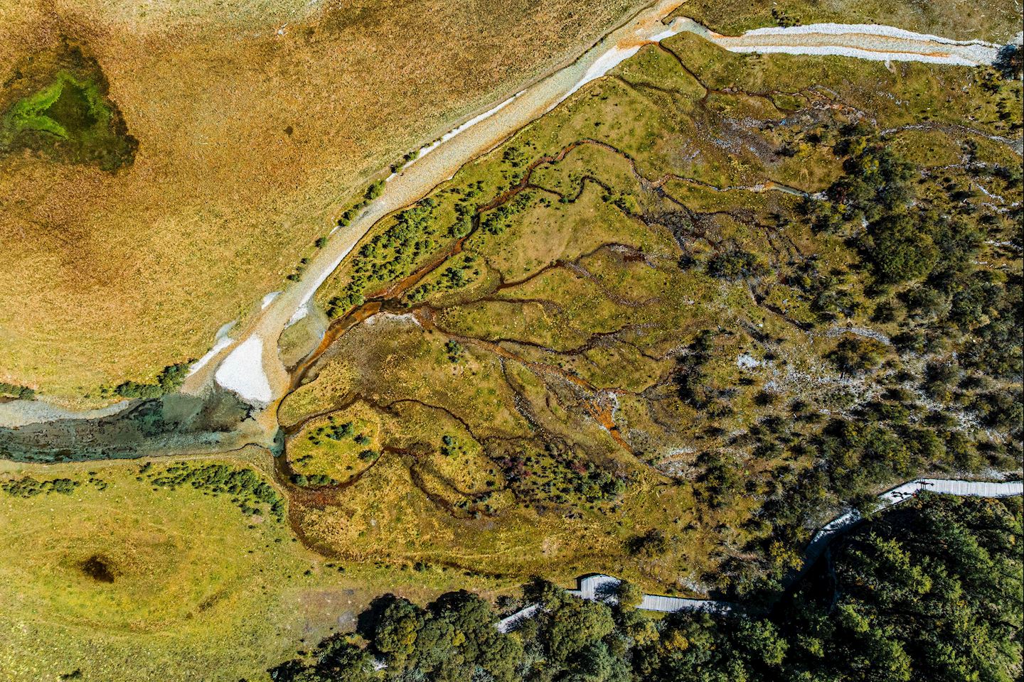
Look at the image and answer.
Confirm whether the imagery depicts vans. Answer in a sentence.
No, I find no van anywhere in the image.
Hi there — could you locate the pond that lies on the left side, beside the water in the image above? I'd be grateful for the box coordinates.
[0,40,145,179]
